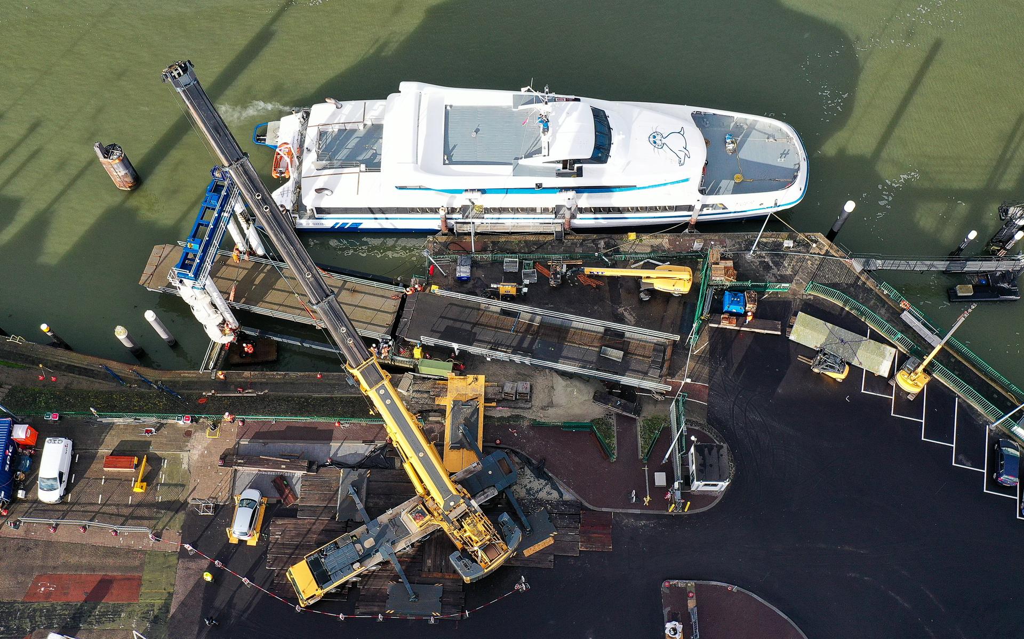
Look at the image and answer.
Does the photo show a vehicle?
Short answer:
Yes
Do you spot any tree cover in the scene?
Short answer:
No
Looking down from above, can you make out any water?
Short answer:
Yes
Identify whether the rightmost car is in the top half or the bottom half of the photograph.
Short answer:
bottom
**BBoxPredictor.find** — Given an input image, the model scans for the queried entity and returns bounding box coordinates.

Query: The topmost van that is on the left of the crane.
[29,431,71,504]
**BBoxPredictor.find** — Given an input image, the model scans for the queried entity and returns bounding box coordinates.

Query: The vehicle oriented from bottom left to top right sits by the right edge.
[897,306,977,397]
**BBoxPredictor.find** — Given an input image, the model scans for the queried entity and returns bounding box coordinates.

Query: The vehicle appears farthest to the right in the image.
[995,435,1024,492]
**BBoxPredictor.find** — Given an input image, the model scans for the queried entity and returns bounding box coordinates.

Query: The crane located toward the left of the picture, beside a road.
[156,55,547,618]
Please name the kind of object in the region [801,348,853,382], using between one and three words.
work vehicle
